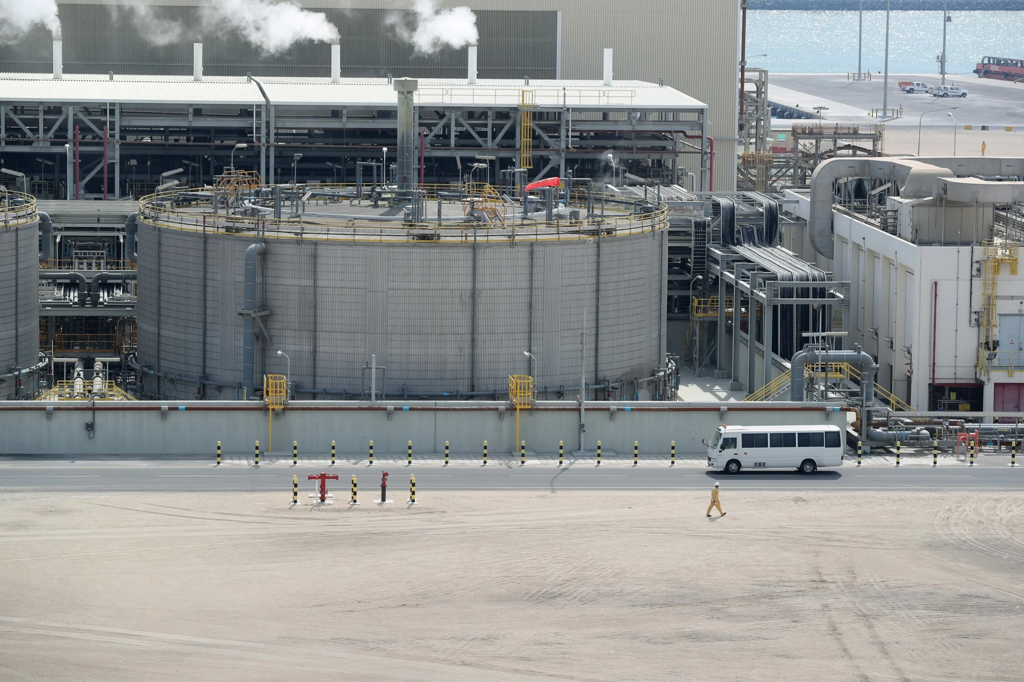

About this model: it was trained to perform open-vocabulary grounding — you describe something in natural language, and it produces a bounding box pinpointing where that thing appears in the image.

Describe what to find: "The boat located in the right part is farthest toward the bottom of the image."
[974,48,1024,89]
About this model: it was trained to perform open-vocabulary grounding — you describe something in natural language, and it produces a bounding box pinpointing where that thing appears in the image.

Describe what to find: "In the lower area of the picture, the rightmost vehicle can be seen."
[696,424,843,474]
